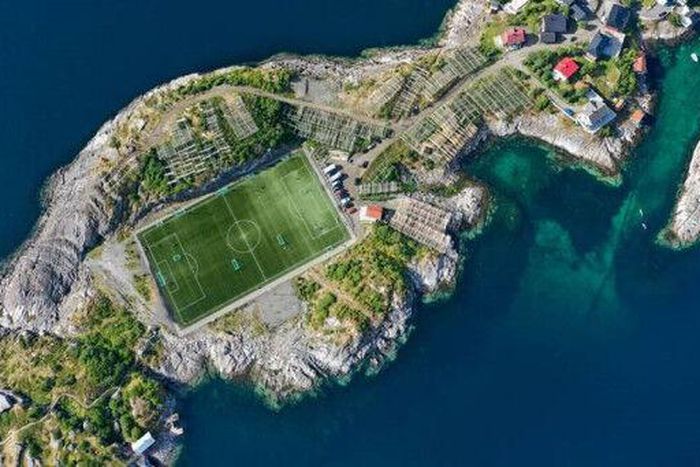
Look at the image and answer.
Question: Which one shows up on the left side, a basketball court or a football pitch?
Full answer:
There is a football pitch on the left side.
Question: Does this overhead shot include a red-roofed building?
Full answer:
Yes, there's a red-roofed building here.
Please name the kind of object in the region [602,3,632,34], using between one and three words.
house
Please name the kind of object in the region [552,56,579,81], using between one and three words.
house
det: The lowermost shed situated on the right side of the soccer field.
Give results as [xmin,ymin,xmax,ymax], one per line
[360,206,382,222]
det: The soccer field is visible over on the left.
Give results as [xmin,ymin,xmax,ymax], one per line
[137,150,351,330]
